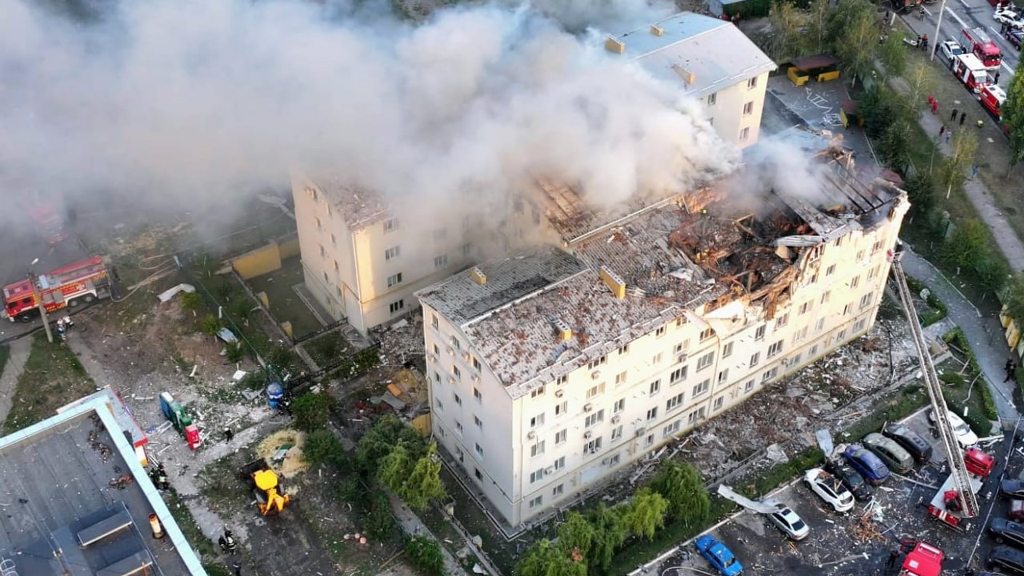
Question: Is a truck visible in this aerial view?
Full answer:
Yes, this view includes a truck.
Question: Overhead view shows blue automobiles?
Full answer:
Yes, looking at the shot, I can spot a blue automobile.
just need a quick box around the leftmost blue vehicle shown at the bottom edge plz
[692,532,747,576]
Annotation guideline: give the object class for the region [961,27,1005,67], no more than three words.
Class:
truck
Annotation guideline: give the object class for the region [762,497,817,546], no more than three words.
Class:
car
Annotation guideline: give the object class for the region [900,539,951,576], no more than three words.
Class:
truck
